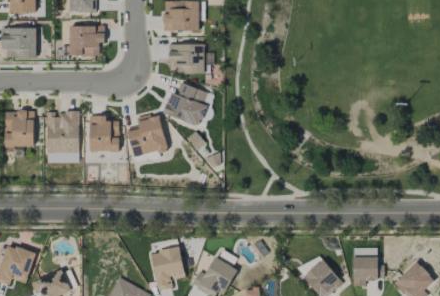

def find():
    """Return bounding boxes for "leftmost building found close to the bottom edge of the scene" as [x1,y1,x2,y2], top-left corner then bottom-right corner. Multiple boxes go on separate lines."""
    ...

[0,246,37,284]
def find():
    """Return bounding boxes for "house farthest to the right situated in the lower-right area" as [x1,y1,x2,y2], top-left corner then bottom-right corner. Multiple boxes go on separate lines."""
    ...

[396,262,437,296]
